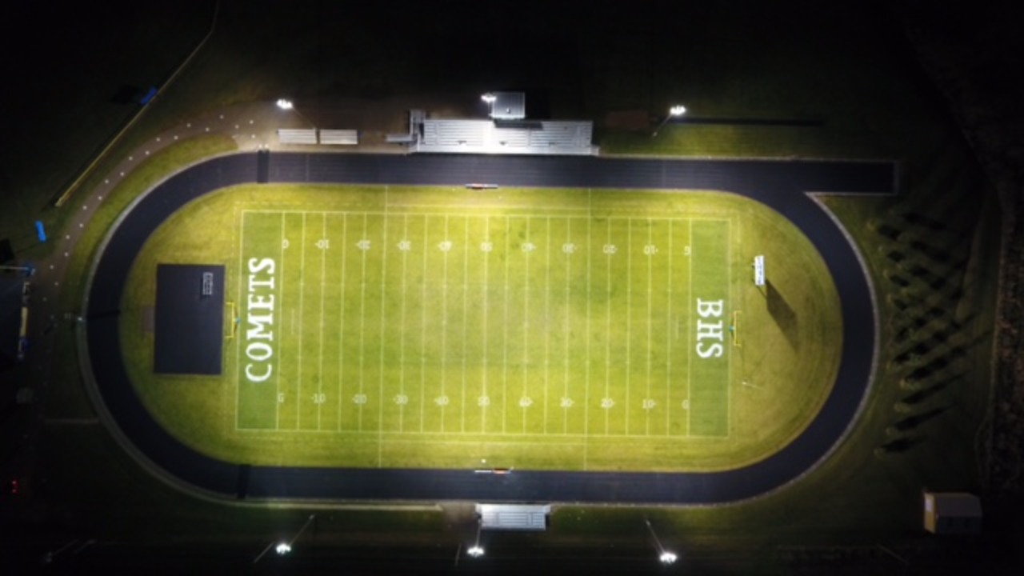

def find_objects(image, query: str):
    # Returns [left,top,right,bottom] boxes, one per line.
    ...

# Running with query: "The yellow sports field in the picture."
[278,212,690,436]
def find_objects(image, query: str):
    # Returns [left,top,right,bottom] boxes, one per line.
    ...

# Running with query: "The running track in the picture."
[87,151,895,504]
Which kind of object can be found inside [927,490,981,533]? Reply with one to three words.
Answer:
shed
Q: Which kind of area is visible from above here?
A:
sports ground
